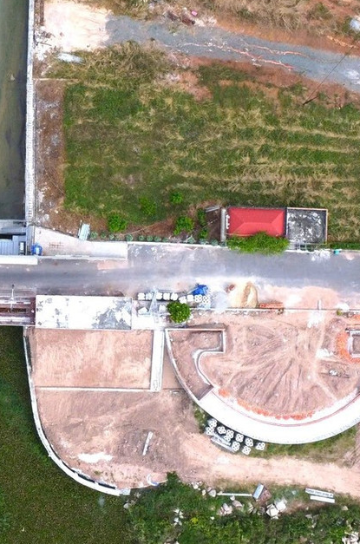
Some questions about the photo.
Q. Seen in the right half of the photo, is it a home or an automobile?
home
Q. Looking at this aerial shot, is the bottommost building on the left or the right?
left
